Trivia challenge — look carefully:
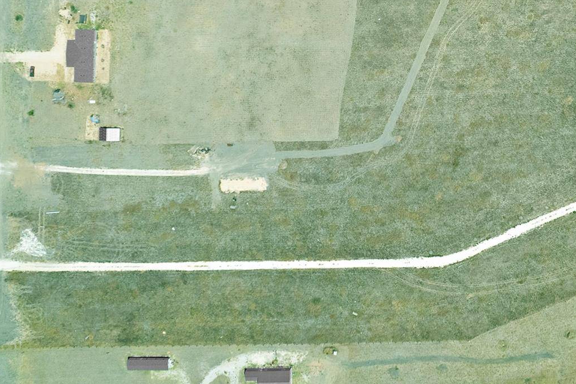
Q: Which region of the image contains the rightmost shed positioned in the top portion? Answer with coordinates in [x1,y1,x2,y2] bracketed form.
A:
[99,127,123,142]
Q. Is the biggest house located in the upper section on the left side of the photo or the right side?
left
